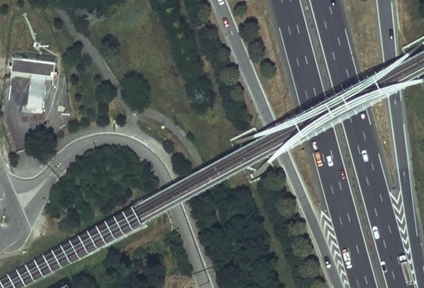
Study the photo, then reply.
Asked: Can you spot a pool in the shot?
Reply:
No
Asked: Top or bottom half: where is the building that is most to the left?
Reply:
top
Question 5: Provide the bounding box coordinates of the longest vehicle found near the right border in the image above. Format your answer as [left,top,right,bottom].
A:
[398,251,414,284]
